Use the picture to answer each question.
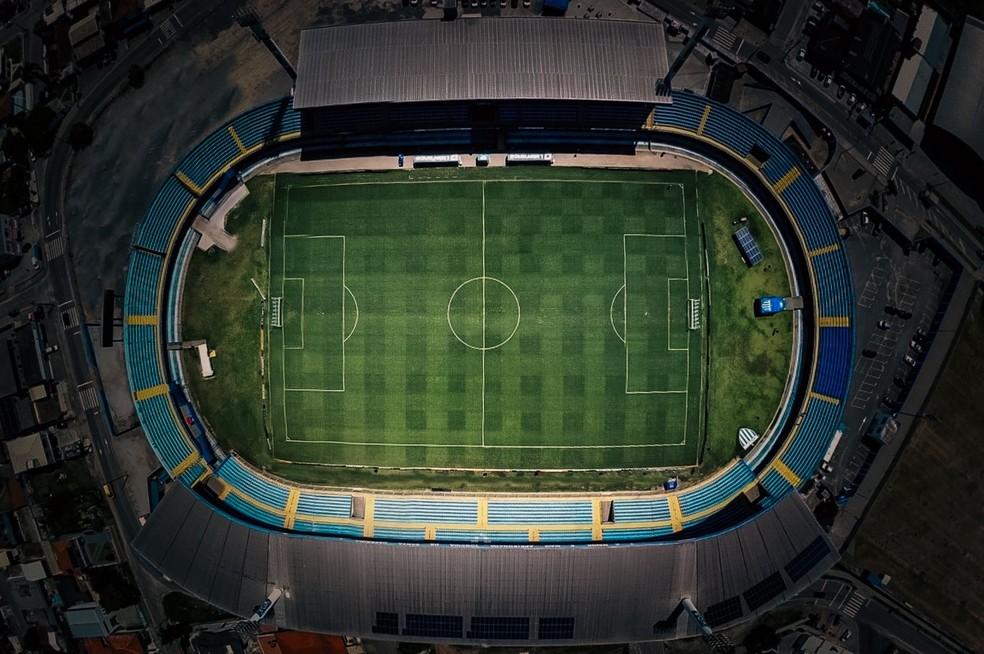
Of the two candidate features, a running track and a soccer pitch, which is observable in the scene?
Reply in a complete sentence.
It is a soccer pitch that can be seen here.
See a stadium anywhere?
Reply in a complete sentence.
Yes, a stadium is visible in the scene.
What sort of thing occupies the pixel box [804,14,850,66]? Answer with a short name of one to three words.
house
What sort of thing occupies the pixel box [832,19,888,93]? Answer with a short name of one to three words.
building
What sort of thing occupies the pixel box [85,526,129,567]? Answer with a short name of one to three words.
house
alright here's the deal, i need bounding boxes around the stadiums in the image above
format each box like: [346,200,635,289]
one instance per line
[120,17,859,648]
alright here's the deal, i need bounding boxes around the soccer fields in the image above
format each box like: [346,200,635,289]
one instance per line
[269,170,705,467]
